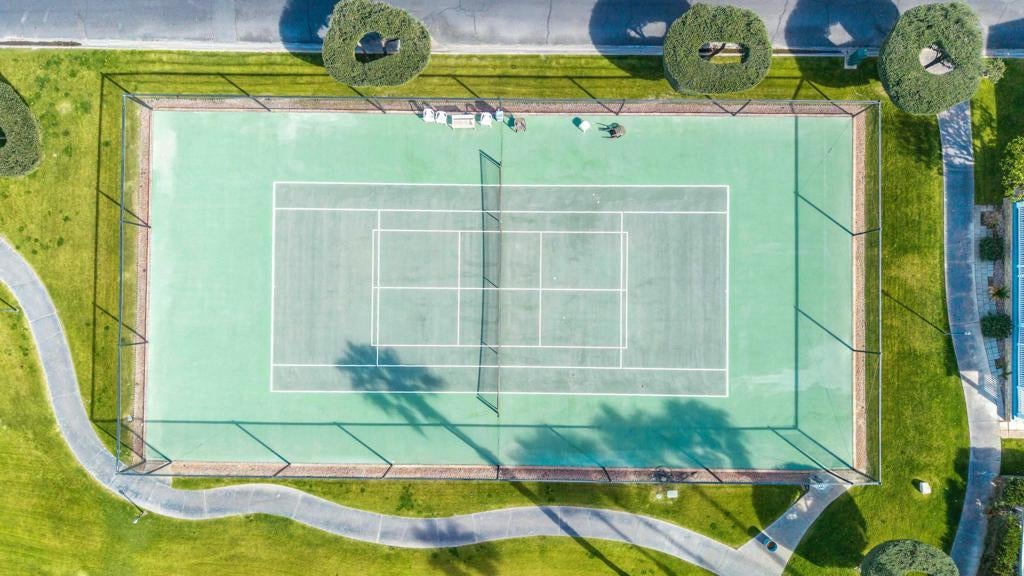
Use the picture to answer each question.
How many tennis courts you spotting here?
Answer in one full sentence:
In total, 1 tennis court can be seen.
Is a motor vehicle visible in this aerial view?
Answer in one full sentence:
No, the frame has no motor vehicle in it.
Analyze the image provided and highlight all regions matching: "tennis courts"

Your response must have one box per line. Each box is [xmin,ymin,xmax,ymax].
[143,108,857,473]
